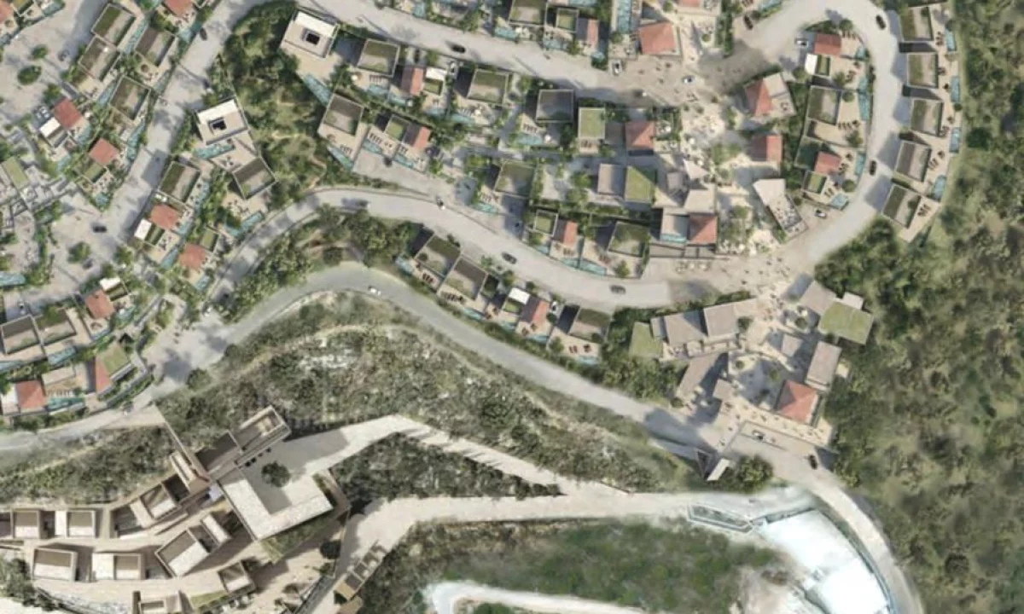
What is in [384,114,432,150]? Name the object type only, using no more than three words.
house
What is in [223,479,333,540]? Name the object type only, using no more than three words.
building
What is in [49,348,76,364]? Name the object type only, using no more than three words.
swimming pool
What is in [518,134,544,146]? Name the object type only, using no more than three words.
swimming pool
